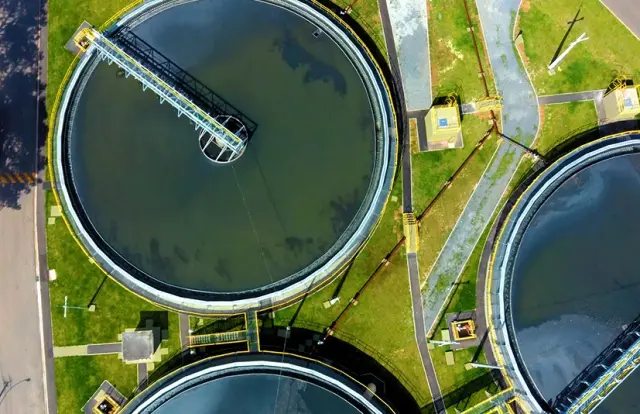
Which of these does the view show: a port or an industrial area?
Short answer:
industrial area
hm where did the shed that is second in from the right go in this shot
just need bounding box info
[427,96,461,141]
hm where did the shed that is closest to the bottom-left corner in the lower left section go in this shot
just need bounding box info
[118,327,168,371]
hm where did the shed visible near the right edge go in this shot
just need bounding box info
[606,76,640,124]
